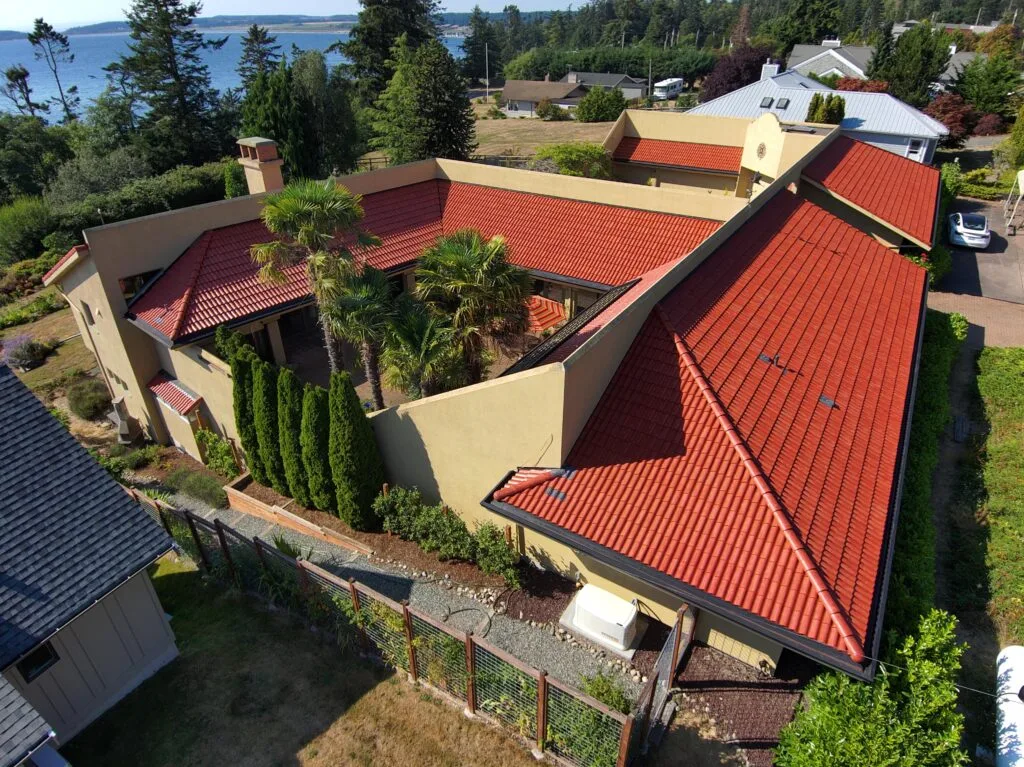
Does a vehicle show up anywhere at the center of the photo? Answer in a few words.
No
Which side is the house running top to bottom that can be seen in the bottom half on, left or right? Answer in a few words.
left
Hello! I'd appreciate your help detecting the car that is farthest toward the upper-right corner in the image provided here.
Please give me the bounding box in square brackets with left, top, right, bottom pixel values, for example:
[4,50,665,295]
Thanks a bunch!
[951,215,996,247]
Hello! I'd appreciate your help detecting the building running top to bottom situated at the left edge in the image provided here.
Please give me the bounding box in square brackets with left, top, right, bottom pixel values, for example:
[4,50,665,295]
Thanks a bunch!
[0,368,183,767]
